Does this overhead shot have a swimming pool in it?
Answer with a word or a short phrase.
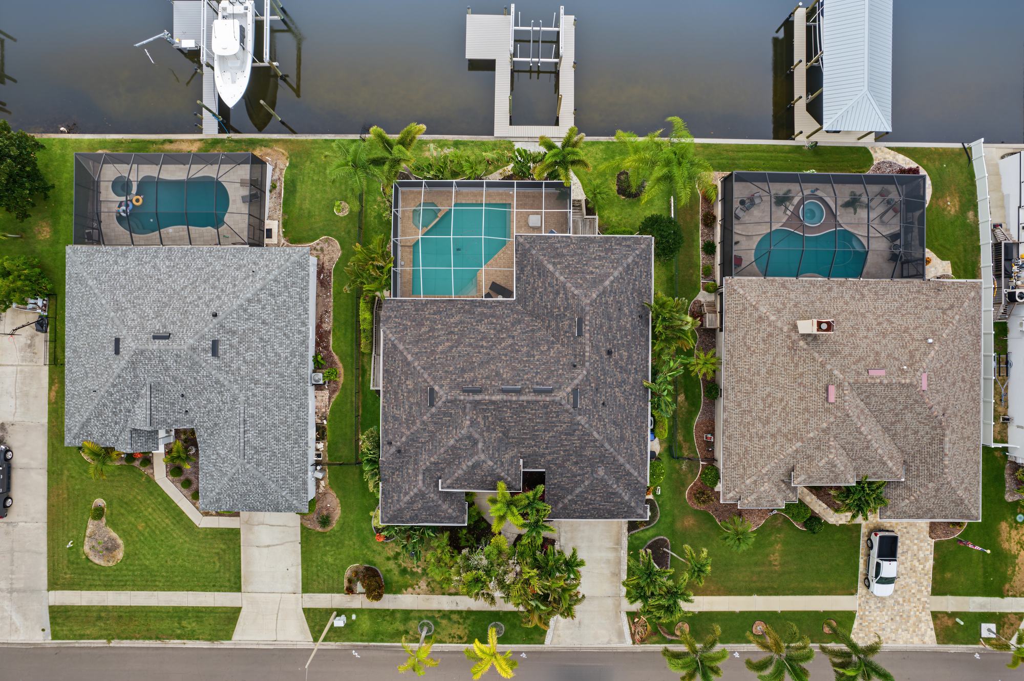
Yes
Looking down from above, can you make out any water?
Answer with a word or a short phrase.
Yes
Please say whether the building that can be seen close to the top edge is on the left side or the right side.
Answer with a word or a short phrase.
right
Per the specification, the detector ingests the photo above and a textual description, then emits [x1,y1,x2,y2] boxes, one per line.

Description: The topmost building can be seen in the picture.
[799,0,897,143]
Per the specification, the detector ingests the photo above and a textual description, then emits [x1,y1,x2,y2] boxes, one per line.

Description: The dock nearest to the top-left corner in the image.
[174,0,231,136]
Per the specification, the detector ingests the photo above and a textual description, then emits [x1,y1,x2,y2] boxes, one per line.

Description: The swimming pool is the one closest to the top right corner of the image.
[800,200,825,225]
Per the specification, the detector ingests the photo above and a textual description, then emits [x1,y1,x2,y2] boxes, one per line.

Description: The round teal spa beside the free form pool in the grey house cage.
[108,173,133,198]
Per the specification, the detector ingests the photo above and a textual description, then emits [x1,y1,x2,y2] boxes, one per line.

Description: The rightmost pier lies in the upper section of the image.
[794,7,874,141]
